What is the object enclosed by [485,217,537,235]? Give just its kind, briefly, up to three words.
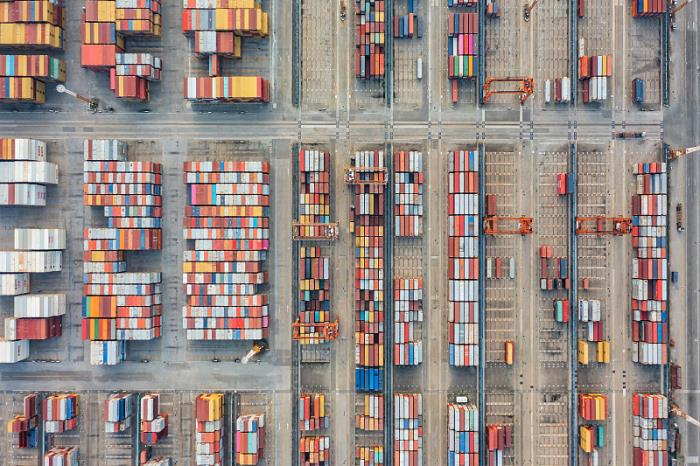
container crane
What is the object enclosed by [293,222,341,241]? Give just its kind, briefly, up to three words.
container crane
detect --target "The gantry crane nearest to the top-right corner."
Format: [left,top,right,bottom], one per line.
[485,78,537,105]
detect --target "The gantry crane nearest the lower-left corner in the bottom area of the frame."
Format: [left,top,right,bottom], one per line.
[293,315,340,340]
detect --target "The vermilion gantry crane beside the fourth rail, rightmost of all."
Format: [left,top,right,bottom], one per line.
[577,217,630,235]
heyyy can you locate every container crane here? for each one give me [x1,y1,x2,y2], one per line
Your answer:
[577,217,630,235]
[293,315,340,340]
[343,167,389,189]
[485,78,537,105]
[293,222,341,241]
[485,217,537,235]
